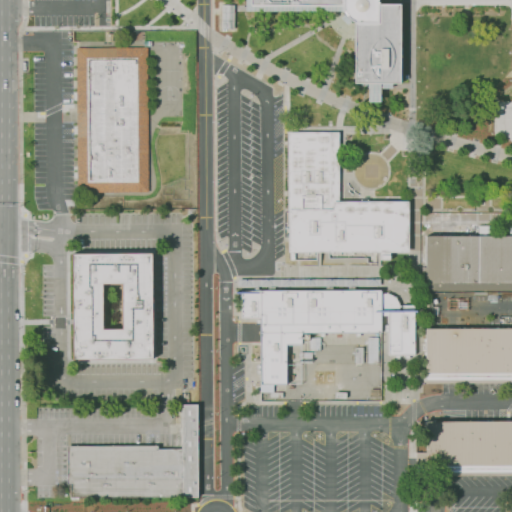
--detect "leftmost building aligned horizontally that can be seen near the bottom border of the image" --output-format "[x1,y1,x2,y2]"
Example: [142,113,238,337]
[70,446,183,500]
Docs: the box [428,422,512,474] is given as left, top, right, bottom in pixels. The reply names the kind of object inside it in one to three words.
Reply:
building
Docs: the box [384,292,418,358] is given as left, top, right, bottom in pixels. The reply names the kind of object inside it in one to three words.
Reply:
building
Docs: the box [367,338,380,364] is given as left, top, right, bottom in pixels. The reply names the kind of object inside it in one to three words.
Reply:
shed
